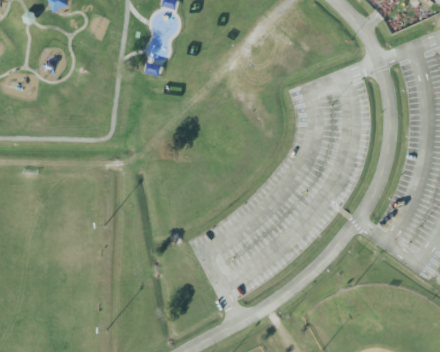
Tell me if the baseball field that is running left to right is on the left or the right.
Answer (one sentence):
It is on the right.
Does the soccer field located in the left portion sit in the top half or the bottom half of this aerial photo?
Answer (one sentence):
The soccer field located in the left portion is in the bottom half of the image.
